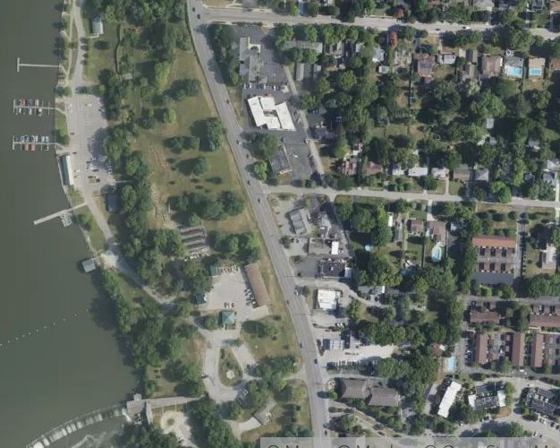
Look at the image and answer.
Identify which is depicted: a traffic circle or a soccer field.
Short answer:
traffic circle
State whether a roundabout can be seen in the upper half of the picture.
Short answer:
No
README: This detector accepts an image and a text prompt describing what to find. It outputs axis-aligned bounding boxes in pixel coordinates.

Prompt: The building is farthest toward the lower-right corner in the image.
[523,386,560,420]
